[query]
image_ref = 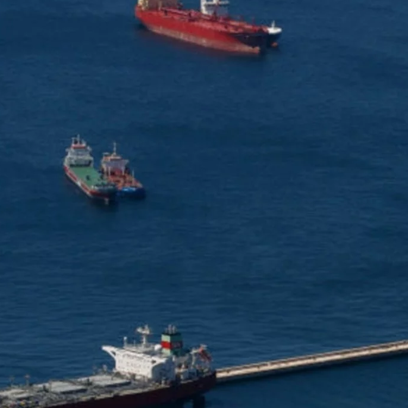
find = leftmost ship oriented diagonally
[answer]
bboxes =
[68,134,117,203]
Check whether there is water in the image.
Yes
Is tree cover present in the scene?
No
